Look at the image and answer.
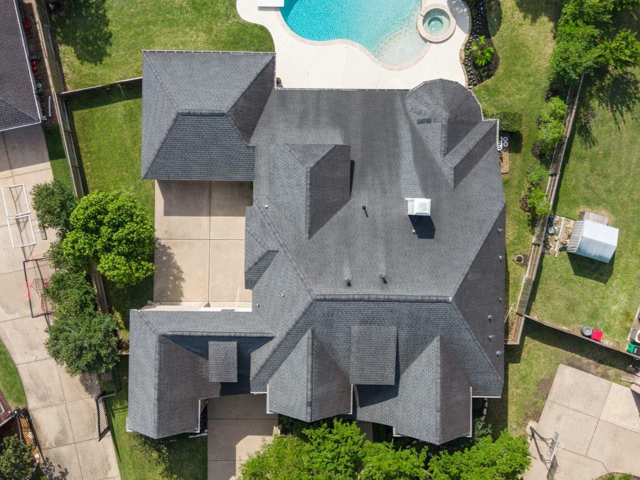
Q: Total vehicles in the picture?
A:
0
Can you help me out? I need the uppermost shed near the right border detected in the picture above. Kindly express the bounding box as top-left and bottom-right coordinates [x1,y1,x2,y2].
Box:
[567,224,626,263]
